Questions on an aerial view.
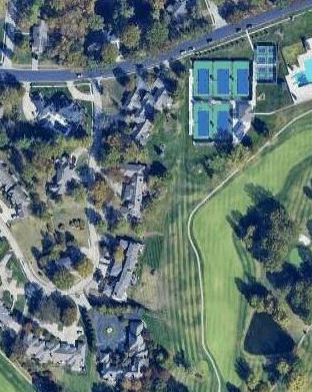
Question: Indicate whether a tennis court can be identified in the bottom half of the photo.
No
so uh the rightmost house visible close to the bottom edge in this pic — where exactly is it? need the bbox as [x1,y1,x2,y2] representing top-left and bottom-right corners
[95,319,149,383]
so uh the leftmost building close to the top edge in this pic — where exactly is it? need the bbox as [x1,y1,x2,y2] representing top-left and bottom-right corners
[27,20,50,53]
